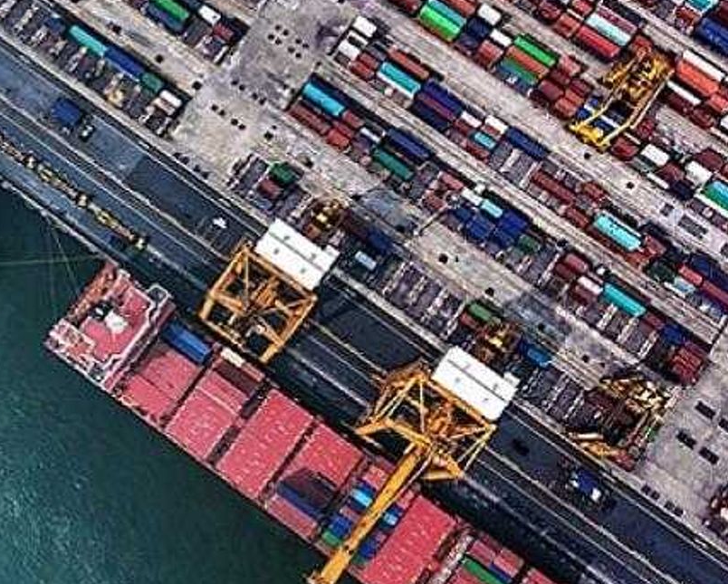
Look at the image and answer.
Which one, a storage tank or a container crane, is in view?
container crane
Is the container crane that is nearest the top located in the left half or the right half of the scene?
right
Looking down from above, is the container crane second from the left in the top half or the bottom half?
bottom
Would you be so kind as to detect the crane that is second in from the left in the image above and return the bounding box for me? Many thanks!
[303,315,520,584]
